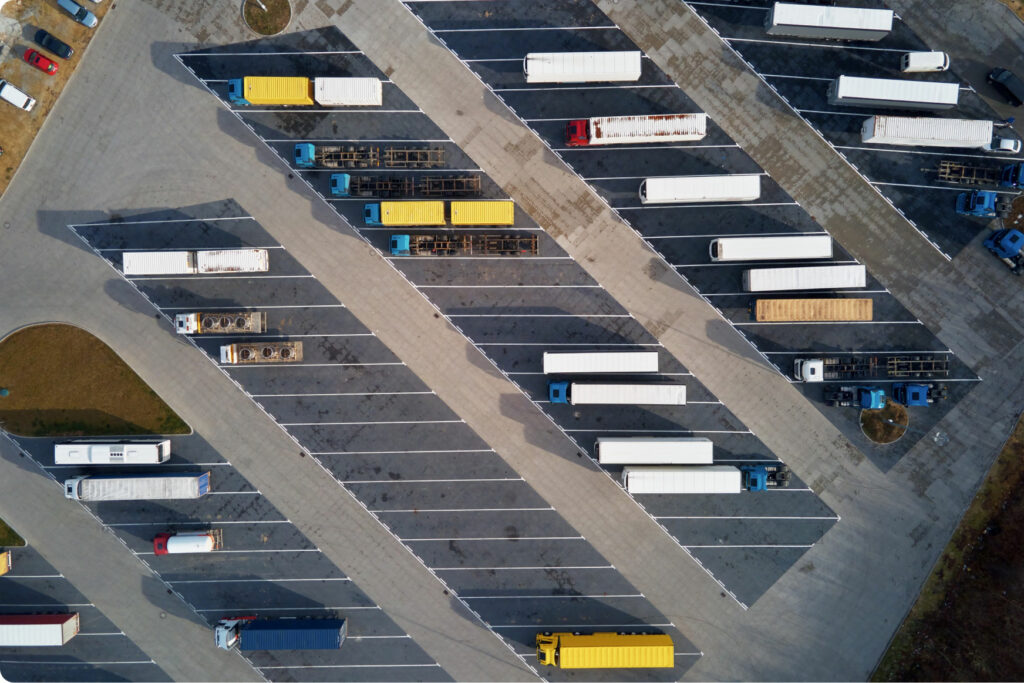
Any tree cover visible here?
No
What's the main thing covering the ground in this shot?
paved ground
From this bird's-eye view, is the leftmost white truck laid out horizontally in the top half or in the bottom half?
bottom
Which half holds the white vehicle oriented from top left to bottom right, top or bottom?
top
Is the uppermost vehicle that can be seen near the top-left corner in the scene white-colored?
No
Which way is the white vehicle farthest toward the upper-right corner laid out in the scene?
horizontally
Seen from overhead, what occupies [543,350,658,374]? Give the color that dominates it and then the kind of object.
white trailer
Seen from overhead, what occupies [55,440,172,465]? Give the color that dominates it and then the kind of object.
white bus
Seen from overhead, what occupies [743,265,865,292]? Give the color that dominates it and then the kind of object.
white trailer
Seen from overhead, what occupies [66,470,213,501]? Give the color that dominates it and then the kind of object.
white truck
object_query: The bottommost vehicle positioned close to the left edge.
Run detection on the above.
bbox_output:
[0,610,81,646]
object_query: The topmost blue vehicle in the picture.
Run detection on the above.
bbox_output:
[53,0,96,29]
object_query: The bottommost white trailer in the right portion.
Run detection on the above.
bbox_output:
[621,464,741,492]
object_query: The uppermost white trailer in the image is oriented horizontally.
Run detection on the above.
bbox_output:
[765,2,893,43]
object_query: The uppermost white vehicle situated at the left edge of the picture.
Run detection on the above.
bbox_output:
[0,80,36,113]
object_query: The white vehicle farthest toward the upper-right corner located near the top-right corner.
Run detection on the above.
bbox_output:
[902,52,948,74]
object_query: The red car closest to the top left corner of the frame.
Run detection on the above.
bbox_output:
[22,49,59,76]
